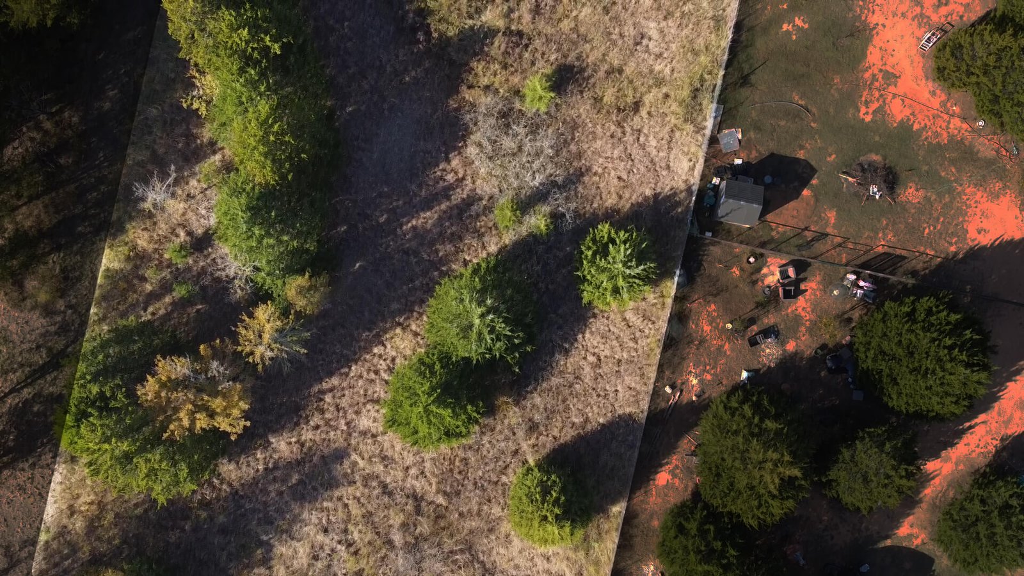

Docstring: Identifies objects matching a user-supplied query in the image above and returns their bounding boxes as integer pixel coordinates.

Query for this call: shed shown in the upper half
[707,181,762,228]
